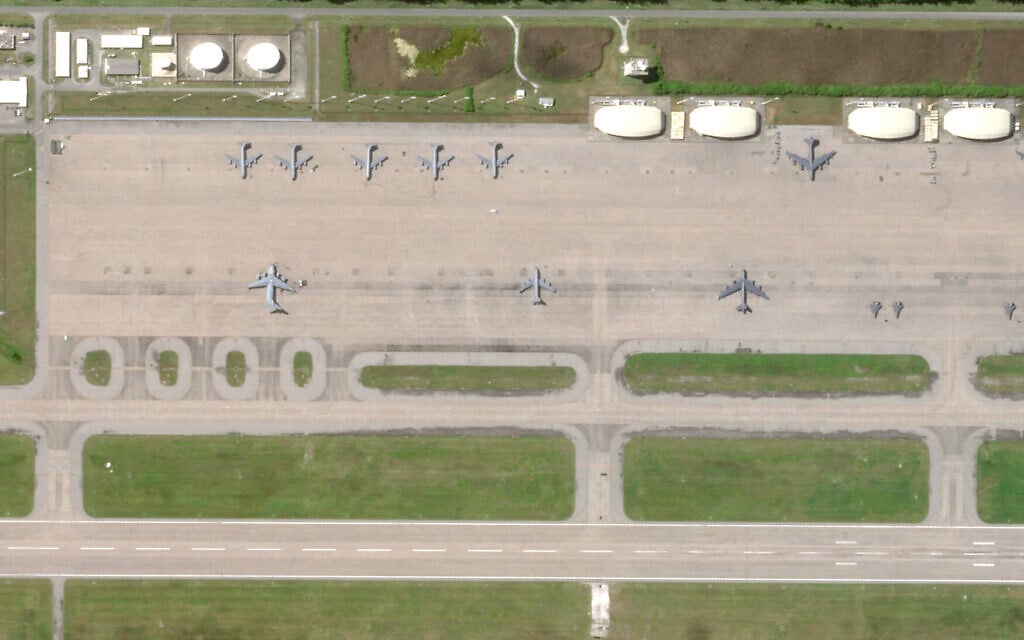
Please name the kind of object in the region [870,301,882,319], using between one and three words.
airplane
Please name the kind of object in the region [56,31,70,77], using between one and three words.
building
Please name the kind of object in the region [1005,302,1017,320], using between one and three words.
airplane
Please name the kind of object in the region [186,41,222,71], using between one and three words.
storage tank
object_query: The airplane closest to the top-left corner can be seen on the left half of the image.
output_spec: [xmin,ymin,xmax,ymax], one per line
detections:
[225,141,261,178]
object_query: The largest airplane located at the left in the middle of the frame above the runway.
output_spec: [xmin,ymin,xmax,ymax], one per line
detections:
[249,264,296,309]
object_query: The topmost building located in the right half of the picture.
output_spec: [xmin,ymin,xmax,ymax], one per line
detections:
[624,57,649,75]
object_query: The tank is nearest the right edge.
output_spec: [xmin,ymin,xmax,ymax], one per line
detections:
[243,41,280,77]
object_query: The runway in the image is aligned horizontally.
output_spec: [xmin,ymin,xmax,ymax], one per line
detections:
[0,521,1024,582]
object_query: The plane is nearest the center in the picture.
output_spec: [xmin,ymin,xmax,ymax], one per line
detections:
[519,267,556,304]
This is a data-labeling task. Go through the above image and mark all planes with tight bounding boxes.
[786,136,837,181]
[417,142,453,180]
[1005,302,1017,320]
[893,301,904,319]
[870,301,882,319]
[718,270,769,313]
[225,141,261,178]
[519,267,556,304]
[249,264,296,309]
[476,141,513,179]
[275,142,311,180]
[350,142,387,180]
